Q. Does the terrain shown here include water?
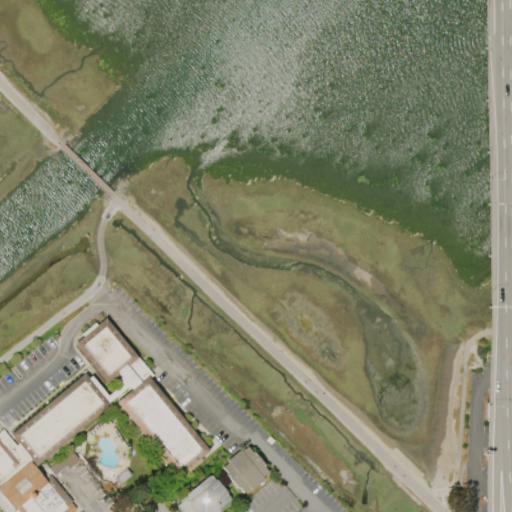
Yes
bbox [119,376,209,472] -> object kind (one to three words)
building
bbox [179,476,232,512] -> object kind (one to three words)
house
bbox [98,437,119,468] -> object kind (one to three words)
swimming pool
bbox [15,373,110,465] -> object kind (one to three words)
building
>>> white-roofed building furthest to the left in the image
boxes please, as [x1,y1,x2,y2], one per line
[0,430,32,486]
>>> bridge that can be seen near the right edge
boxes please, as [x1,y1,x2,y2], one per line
[486,0,512,512]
